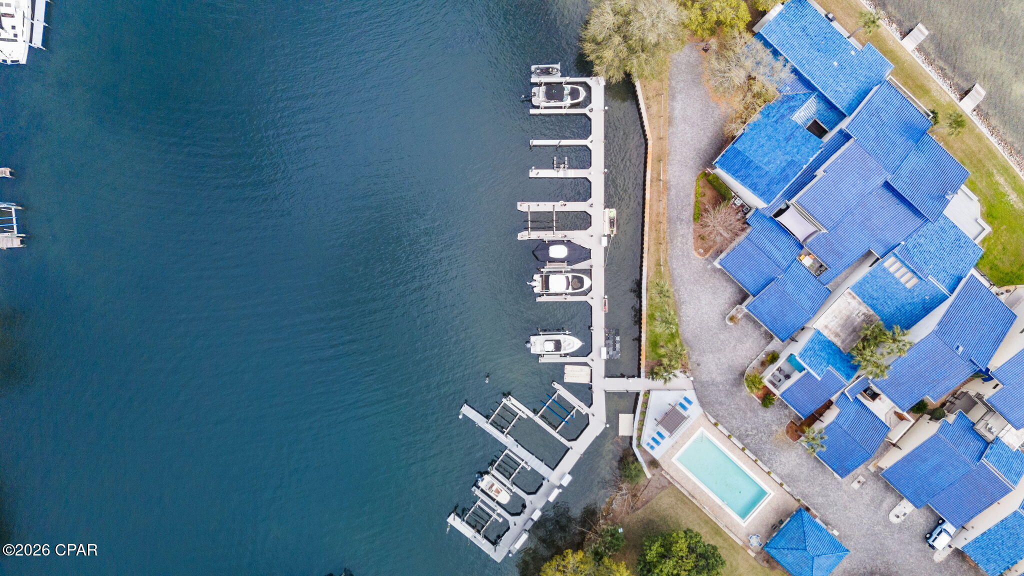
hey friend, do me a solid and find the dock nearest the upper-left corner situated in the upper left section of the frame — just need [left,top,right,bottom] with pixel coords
[23,0,60,52]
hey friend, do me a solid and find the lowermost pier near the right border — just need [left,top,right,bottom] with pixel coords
[959,83,987,112]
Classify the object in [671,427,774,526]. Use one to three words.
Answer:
swimming pool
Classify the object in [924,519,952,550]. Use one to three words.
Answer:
car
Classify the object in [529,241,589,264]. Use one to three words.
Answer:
boat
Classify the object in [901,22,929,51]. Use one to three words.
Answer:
pier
